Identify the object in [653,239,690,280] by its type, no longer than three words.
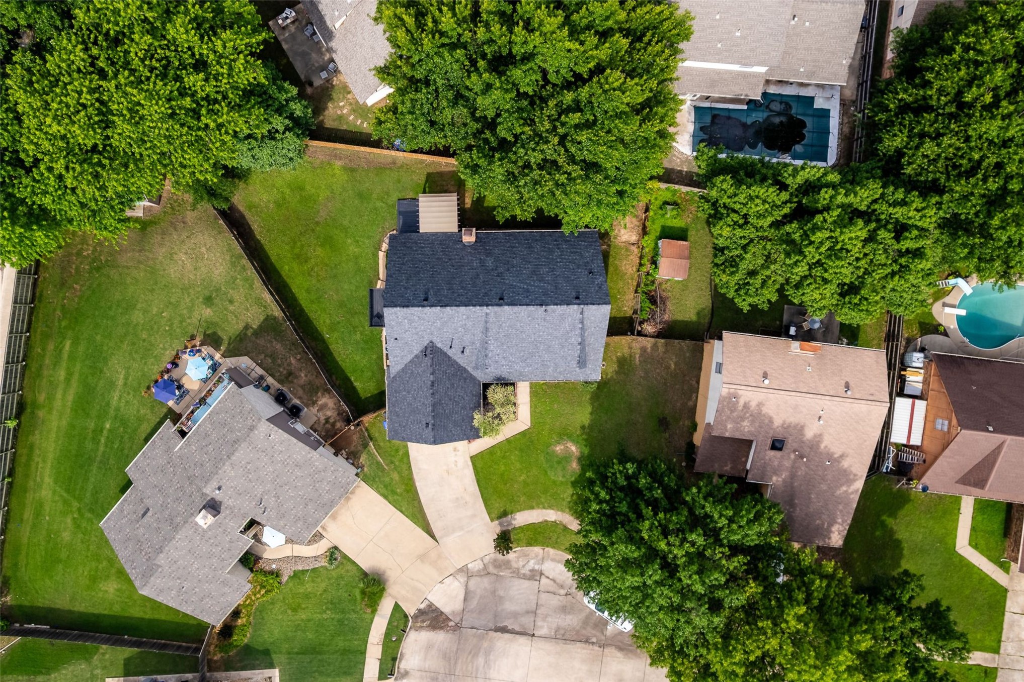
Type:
shed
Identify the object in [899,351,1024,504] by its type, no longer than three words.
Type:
house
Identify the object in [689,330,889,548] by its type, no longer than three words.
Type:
house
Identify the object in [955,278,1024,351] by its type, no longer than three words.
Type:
swimming pool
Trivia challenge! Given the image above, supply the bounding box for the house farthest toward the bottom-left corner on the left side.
[99,364,361,627]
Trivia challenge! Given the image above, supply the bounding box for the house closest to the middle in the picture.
[370,228,610,445]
